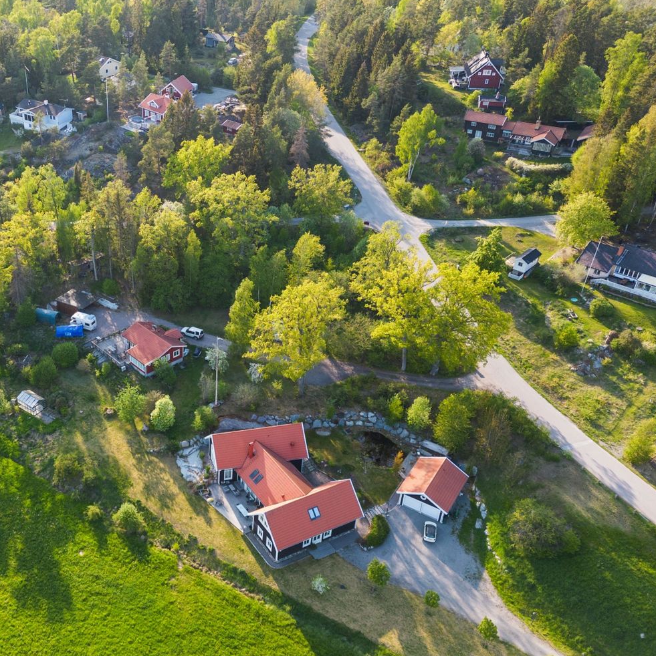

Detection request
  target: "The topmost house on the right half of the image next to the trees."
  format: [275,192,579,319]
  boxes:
[449,50,503,86]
